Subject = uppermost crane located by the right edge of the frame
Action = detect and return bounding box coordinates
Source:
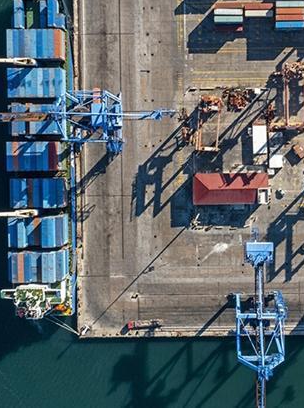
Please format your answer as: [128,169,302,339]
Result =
[263,62,304,133]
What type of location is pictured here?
port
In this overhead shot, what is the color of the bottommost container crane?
blue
